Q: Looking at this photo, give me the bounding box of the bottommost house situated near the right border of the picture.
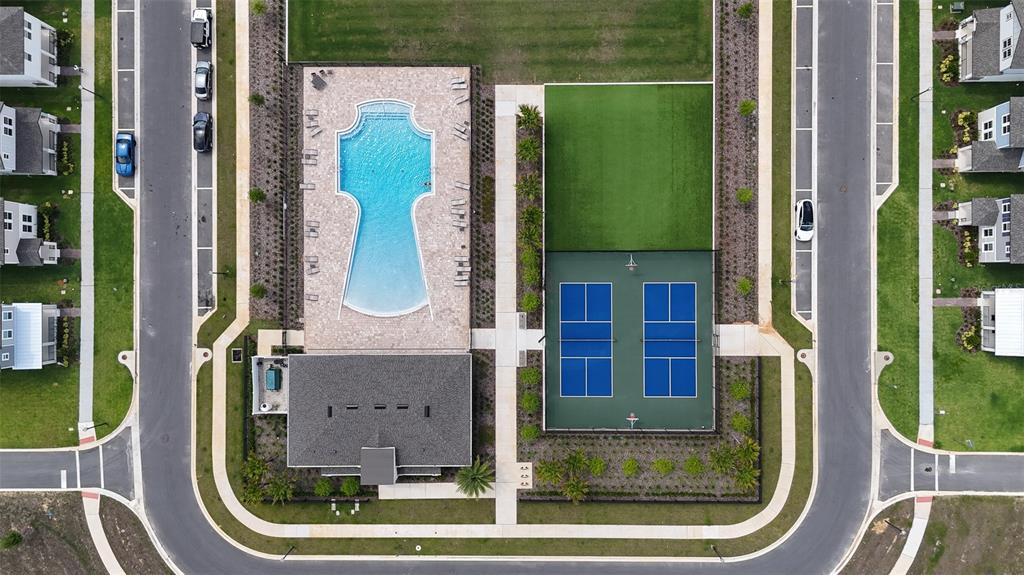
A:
[977,288,1024,357]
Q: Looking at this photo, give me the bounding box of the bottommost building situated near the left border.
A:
[0,304,60,375]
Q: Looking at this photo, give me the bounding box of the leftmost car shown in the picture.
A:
[113,134,136,177]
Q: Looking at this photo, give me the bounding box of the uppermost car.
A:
[191,9,213,51]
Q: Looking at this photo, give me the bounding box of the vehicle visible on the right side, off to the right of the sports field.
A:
[795,200,816,241]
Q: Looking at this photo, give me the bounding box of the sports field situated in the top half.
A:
[545,83,713,249]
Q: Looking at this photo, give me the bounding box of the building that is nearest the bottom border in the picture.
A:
[286,352,473,485]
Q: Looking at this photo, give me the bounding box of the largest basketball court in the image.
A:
[545,250,713,428]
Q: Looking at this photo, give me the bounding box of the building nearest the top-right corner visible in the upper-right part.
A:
[957,2,1024,82]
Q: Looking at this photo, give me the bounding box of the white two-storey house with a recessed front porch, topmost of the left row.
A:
[0,7,60,86]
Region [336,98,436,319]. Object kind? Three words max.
swimming pool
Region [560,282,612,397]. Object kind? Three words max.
sports court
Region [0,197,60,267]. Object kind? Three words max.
house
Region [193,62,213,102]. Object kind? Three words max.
car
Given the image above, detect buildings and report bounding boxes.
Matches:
[286,352,473,485]
[977,288,1024,357]
[956,98,1024,173]
[0,304,60,375]
[0,197,60,267]
[0,101,60,176]
[0,7,60,86]
[957,2,1024,82]
[948,191,1024,263]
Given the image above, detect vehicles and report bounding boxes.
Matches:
[191,9,213,51]
[795,200,816,241]
[113,134,136,177]
[192,113,213,153]
[193,62,213,102]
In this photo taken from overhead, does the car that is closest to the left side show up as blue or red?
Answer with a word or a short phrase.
blue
